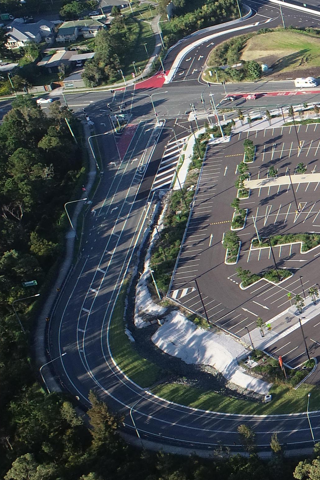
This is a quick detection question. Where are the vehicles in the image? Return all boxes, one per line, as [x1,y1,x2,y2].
[36,97,52,104]
[293,77,317,87]
[245,94,259,100]
[224,95,238,101]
